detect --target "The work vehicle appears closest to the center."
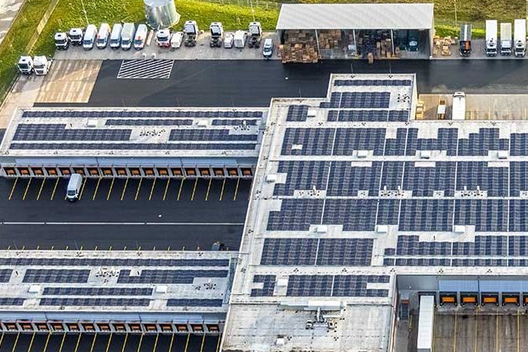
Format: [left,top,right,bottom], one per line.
[205,236,222,249]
